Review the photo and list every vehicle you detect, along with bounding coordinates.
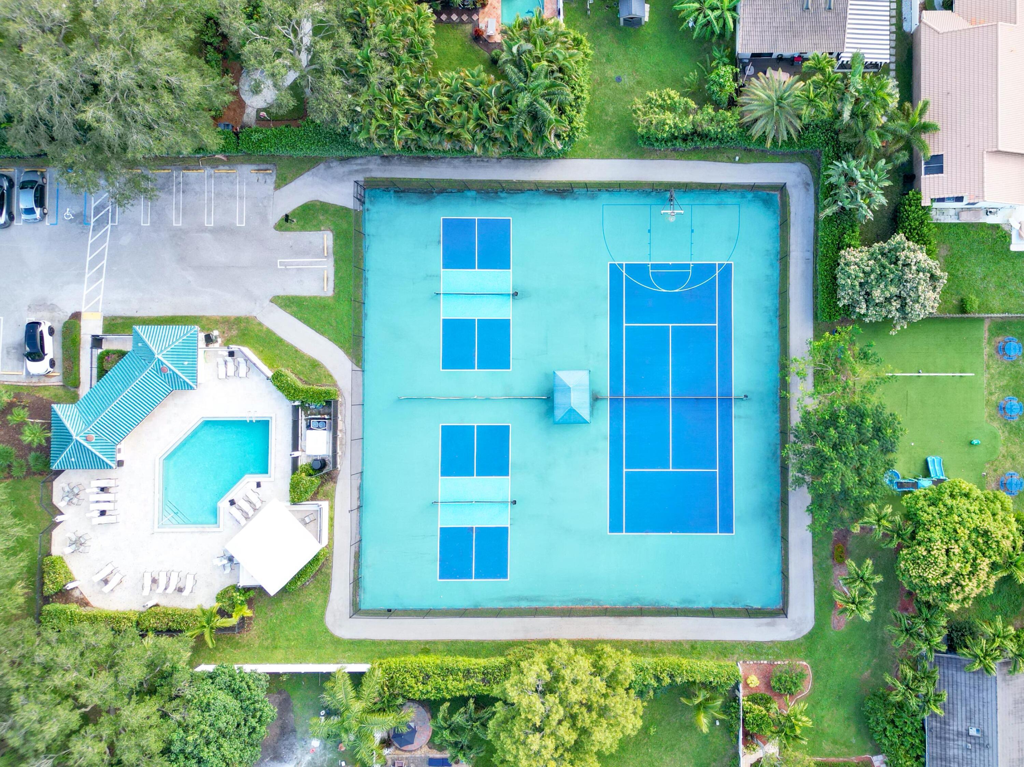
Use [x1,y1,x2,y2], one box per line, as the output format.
[14,168,45,221]
[0,171,13,226]
[22,321,54,374]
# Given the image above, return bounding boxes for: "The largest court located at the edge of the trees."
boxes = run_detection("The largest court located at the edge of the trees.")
[361,189,782,609]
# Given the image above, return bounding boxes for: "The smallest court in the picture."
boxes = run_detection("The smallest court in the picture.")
[603,204,739,291]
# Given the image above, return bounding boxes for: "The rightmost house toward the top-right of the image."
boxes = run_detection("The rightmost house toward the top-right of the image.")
[913,0,1024,208]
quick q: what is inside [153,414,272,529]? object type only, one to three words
swimming pool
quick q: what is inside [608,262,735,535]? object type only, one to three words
tennis court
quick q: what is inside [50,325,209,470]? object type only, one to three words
building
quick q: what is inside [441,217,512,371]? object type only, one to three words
sports court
